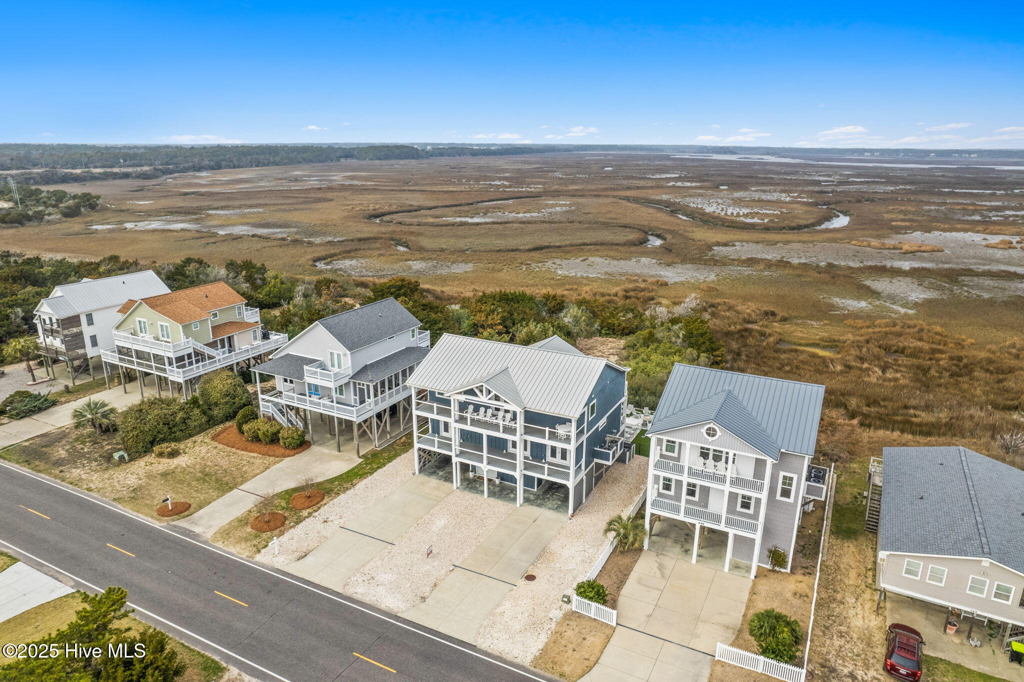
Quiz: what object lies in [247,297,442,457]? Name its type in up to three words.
house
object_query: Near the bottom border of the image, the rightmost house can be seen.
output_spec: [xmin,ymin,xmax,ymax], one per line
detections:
[855,445,1024,653]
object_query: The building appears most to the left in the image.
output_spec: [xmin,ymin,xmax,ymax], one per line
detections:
[25,270,170,386]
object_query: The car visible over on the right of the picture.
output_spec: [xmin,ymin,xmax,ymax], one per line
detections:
[886,625,928,682]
